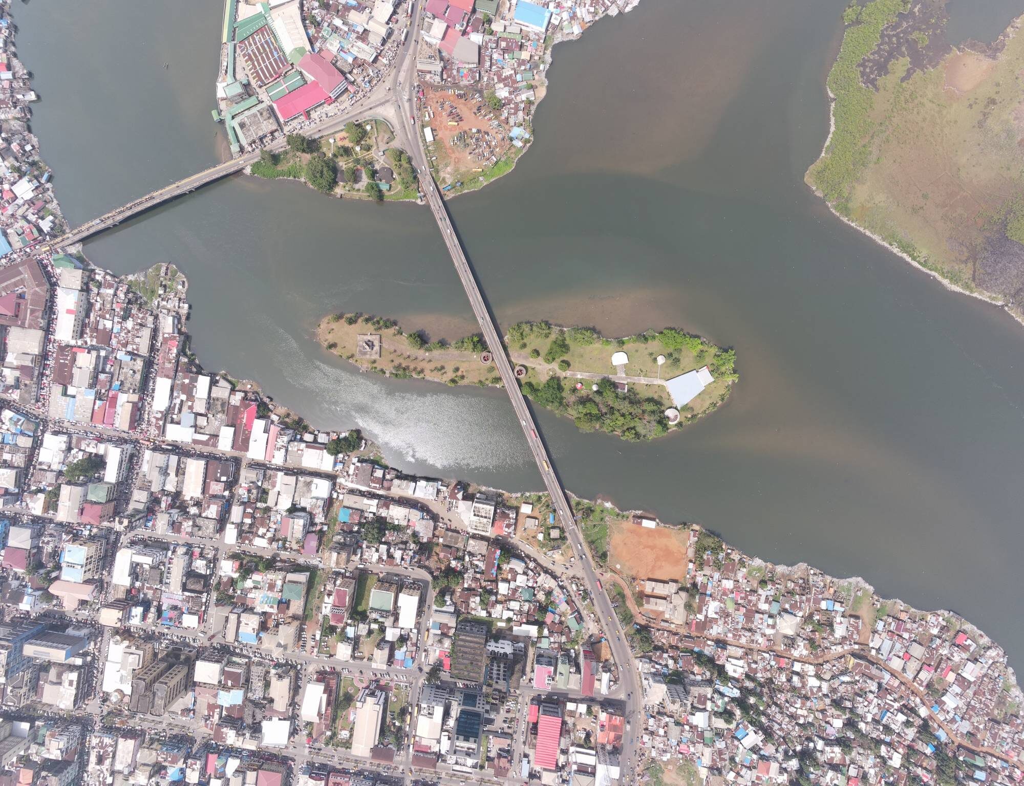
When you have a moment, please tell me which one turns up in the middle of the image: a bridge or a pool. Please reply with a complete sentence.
The one visible in the middle of the image is a bridge.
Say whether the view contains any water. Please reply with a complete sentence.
Yes, the picture does contain water.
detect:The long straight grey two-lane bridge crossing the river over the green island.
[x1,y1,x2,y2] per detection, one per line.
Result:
[417,166,563,498]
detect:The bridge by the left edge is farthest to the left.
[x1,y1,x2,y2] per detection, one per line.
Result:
[40,155,245,257]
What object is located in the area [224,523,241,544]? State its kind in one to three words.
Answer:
building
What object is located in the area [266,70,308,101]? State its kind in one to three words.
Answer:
house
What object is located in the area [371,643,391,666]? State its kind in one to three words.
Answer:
building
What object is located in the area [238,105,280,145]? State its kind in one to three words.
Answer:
house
